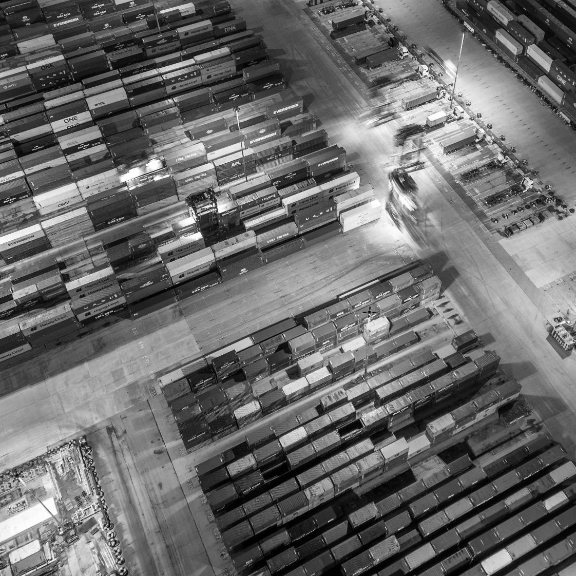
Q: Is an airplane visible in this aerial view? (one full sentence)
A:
No, I can see no airplane in this picture.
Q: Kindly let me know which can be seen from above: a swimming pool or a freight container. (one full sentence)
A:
There is a freight container in the scene.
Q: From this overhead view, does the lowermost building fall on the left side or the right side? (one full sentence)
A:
You can find the lowermost building on the left side of the picture.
